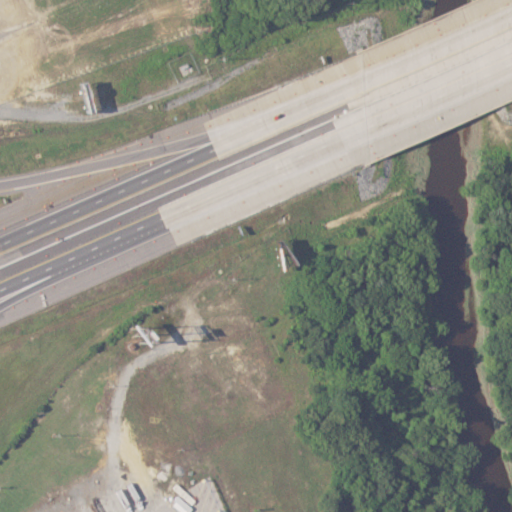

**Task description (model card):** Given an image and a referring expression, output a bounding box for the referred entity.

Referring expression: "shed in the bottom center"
[186,478,228,512]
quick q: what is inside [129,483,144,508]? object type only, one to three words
vehicle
